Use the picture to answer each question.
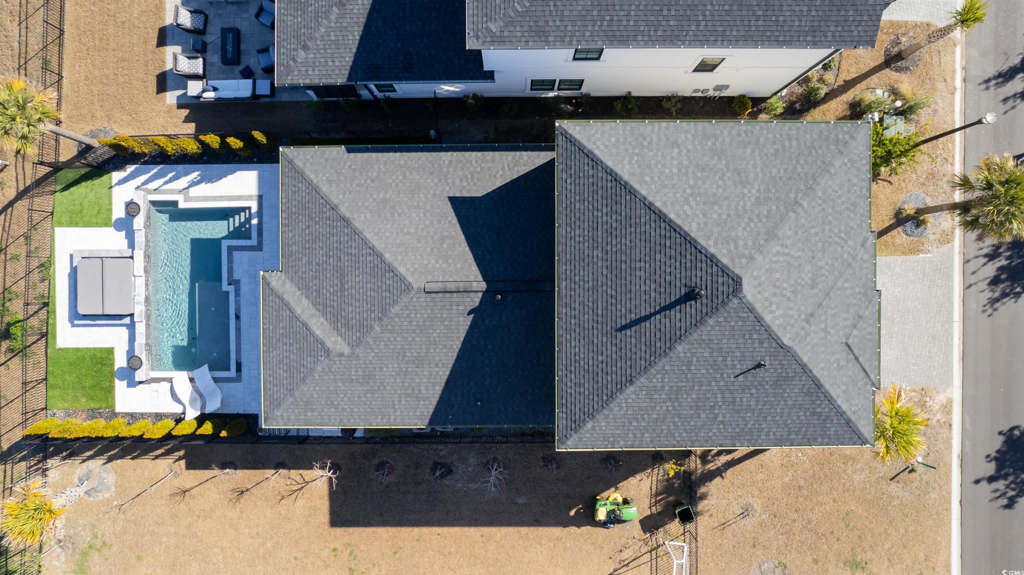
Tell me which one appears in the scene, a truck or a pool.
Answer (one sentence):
It is a pool that can be seen here.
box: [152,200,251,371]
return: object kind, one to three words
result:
swimming pool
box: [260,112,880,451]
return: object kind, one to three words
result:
house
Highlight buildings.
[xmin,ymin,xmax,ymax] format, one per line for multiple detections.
[275,0,886,99]
[260,112,880,451]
